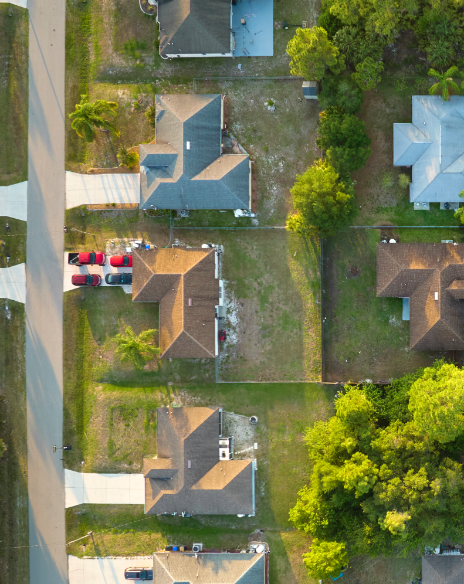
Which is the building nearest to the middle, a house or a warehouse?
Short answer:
house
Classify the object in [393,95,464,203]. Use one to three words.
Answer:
house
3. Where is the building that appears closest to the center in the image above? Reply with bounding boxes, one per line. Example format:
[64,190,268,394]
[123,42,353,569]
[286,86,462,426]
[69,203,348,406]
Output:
[132,247,221,359]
